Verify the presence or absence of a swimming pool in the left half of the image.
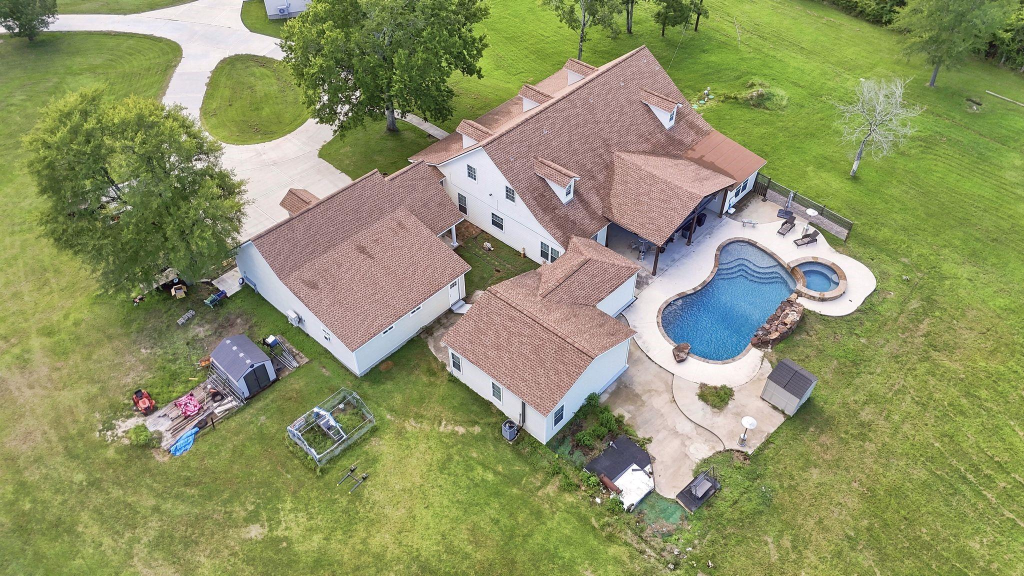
No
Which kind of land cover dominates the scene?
grass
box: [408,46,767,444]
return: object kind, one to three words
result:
house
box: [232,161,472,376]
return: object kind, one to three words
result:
building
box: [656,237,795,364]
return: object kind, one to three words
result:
swimming pool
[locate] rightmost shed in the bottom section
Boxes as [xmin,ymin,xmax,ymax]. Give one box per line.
[761,358,817,414]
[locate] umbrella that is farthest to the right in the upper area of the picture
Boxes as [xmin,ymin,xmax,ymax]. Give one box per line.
[778,190,793,217]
